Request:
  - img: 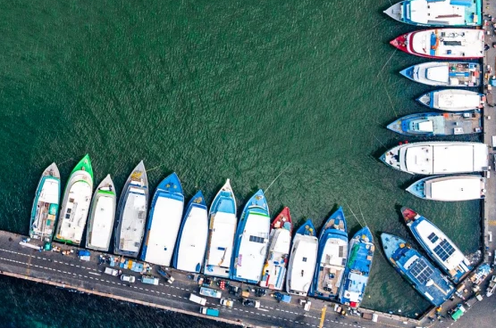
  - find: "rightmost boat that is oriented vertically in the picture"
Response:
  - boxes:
[337,226,371,308]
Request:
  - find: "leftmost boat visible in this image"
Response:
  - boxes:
[30,163,60,241]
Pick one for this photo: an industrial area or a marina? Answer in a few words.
marina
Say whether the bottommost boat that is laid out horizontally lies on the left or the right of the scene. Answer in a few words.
right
